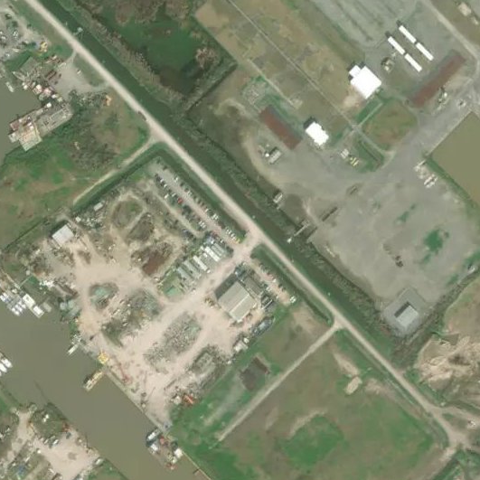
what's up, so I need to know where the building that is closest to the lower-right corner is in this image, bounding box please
[395,304,419,327]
